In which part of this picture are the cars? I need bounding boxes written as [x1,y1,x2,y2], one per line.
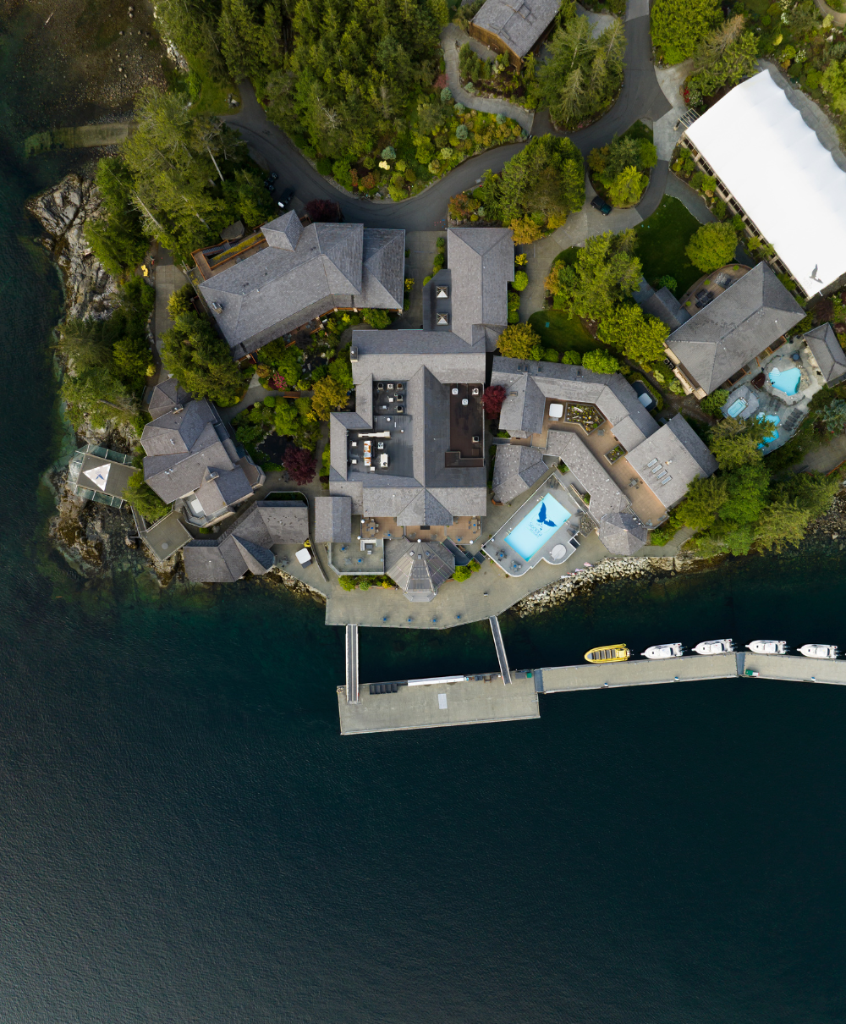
[275,185,297,207]
[590,191,614,215]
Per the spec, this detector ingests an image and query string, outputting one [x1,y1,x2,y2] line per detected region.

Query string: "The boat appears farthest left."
[587,644,631,663]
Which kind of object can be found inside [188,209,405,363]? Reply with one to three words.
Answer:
building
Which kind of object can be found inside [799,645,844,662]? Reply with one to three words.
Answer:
boat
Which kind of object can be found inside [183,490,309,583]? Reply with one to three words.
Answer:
building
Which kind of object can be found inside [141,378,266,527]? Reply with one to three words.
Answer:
house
